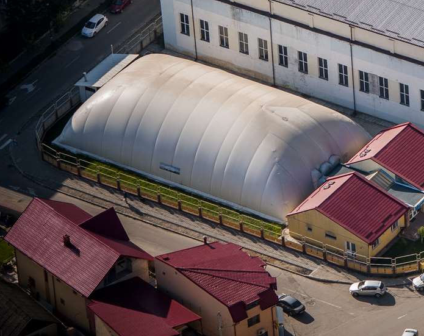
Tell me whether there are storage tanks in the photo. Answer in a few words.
No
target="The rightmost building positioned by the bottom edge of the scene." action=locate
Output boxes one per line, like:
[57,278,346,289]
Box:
[155,235,279,336]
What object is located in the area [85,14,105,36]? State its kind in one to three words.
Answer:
car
